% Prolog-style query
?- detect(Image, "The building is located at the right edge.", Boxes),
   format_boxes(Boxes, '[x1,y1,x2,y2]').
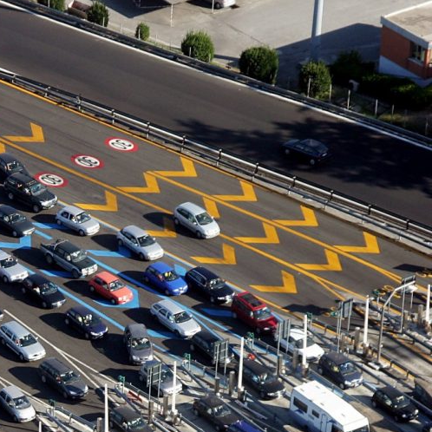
[380,1,432,88]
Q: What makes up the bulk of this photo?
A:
paved ground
